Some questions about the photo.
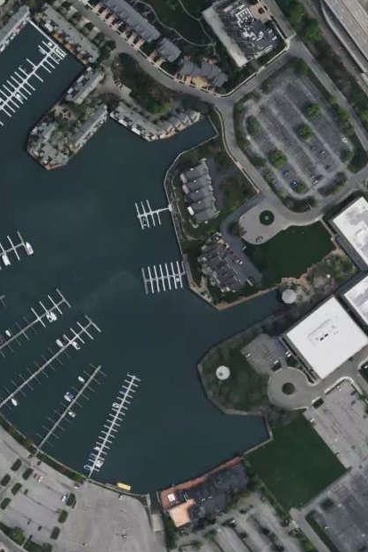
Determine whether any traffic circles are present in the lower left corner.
No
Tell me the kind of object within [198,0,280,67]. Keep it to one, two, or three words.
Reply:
building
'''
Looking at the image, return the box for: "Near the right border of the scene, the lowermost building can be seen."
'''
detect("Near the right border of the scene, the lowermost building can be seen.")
[283,296,368,380]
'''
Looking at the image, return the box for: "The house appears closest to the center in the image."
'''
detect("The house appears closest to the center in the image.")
[199,234,246,292]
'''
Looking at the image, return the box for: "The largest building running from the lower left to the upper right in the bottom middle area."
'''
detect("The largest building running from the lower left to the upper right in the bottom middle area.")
[182,465,247,517]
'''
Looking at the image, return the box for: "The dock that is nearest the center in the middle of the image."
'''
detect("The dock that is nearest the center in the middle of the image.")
[142,261,185,294]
